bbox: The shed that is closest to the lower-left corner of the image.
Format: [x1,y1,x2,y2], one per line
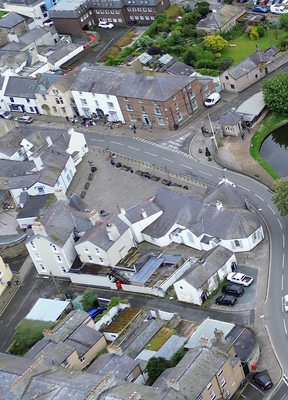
[26,301,69,329]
